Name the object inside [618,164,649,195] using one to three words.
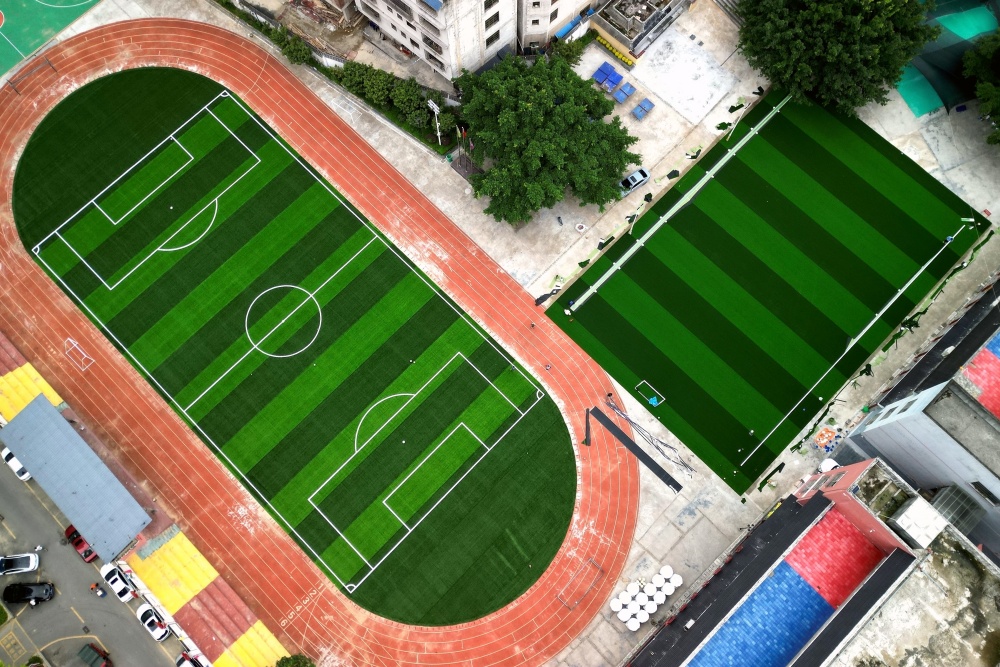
car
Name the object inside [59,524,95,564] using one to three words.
car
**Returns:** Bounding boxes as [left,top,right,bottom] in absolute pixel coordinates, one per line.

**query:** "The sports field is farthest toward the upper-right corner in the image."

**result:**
[545,73,990,497]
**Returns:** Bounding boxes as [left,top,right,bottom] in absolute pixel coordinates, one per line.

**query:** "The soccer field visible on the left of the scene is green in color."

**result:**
[10,61,578,626]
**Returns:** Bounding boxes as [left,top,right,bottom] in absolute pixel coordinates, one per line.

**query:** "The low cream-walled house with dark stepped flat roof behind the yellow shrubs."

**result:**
[584,0,704,60]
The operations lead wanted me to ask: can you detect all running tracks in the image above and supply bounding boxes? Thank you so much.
[0,17,641,667]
